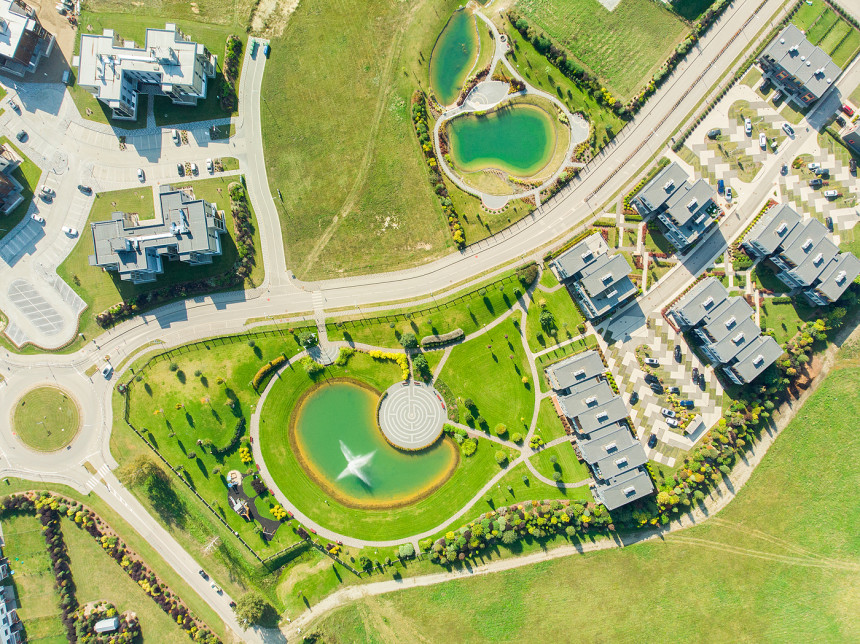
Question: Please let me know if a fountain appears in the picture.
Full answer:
Yes, I can see a fountain in this picture.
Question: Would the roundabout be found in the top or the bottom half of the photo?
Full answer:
The roundabout sits in the bottom half of the picture.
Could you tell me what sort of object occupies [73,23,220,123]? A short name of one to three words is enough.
building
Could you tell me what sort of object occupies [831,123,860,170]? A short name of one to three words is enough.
house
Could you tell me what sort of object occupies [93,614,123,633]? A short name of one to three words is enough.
shed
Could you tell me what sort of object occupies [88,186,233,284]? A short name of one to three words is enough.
building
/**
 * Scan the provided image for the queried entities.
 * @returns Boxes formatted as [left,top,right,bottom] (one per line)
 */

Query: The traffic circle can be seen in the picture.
[0,364,103,474]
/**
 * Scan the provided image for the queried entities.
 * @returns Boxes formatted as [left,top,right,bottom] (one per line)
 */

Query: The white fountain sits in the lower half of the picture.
[336,440,377,487]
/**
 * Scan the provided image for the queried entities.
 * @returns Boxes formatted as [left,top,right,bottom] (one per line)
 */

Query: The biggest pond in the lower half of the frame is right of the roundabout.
[292,380,459,507]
